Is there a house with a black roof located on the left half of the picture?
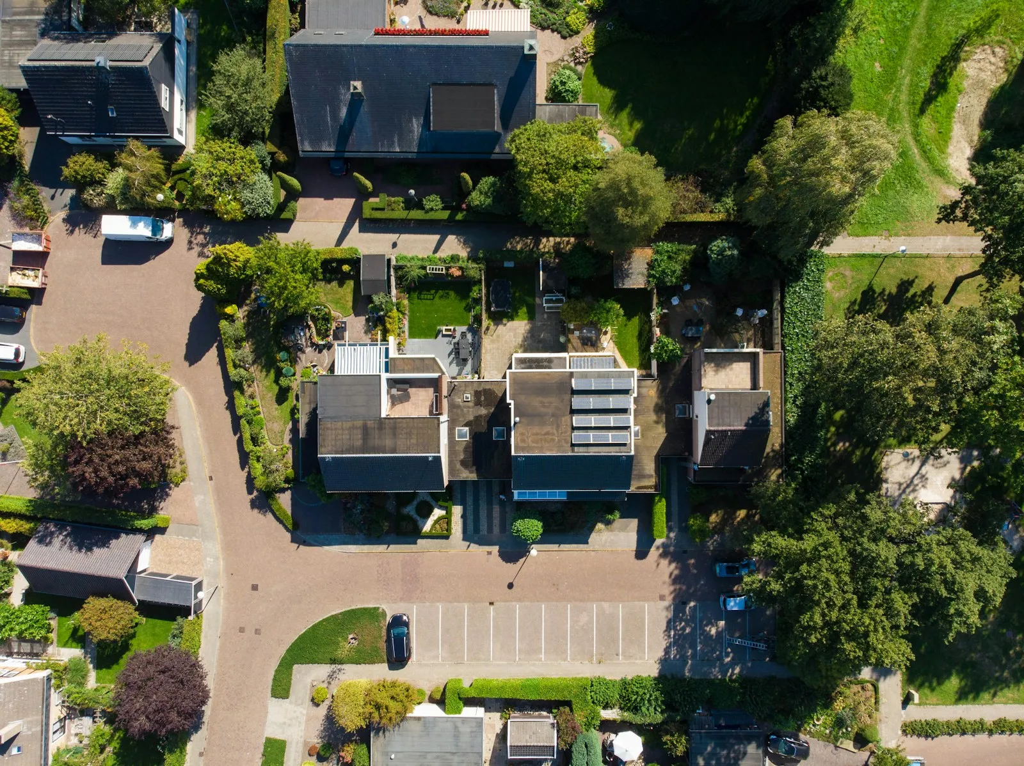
Yes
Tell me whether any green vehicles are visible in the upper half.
No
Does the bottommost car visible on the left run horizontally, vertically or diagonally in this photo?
vertically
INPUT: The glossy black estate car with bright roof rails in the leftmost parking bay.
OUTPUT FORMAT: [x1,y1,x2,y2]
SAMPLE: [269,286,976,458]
[383,615,409,666]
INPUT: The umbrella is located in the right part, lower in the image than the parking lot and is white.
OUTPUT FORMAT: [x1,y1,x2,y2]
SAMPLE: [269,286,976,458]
[611,729,640,759]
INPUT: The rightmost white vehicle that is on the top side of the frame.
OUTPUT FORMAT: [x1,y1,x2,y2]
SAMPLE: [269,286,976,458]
[101,215,173,243]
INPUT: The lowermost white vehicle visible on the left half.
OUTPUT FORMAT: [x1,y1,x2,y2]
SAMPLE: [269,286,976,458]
[0,342,21,363]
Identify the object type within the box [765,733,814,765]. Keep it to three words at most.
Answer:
car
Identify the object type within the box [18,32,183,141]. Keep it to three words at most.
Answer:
house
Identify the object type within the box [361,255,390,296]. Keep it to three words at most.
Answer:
shed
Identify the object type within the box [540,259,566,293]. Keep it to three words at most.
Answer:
shed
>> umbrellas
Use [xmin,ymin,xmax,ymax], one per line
[611,729,640,759]
[399,17,411,27]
